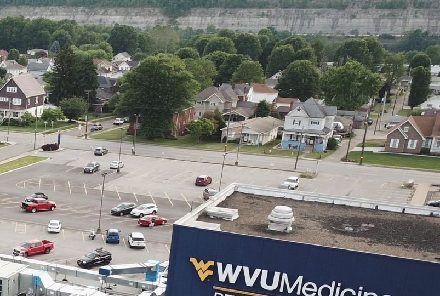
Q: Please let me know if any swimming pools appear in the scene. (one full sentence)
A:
No, the frame has no swimming pool in it.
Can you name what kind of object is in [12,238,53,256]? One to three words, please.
vehicle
